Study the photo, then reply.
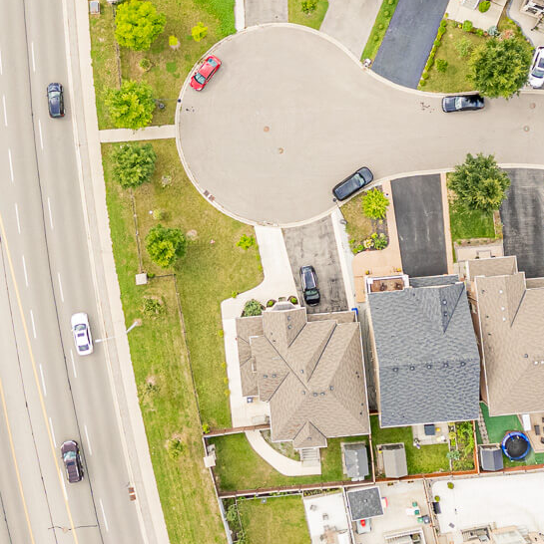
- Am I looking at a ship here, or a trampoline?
trampoline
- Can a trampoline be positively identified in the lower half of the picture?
Yes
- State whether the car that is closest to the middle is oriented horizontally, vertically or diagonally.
vertically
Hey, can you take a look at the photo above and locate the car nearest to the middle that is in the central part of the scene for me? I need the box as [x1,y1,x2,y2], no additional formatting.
[299,263,321,305]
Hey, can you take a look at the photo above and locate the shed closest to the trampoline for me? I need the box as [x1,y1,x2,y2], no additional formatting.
[478,445,503,471]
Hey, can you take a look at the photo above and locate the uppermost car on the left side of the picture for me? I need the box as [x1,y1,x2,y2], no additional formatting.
[190,54,221,91]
